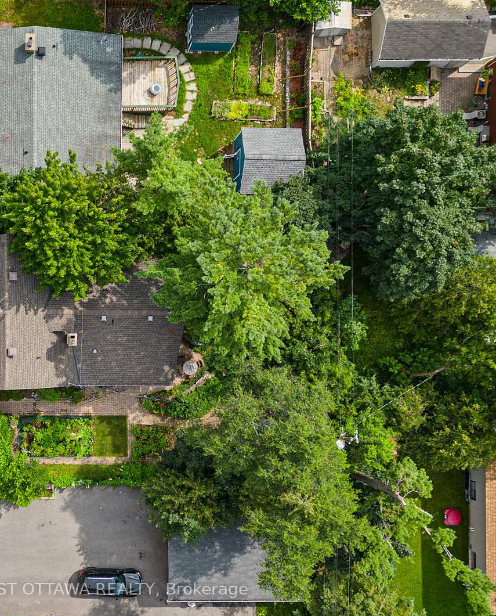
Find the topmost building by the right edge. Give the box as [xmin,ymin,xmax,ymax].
[372,0,495,67]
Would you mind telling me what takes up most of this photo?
trees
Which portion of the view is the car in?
bottom left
